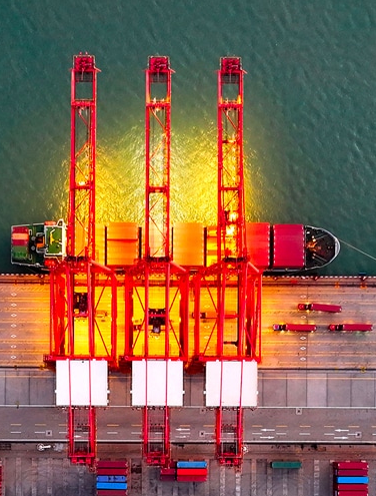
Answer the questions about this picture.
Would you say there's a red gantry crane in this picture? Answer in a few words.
Yes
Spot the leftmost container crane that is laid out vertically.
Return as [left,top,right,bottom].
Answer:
[39,49,125,476]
